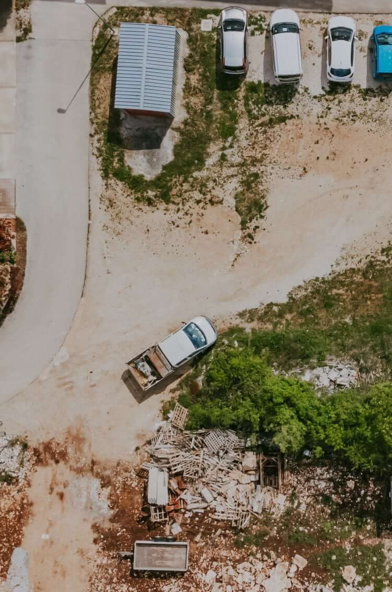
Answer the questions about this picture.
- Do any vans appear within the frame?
Yes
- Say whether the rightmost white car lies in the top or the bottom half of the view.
top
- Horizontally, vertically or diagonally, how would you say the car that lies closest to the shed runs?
vertically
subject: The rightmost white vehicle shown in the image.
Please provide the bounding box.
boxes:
[323,15,358,85]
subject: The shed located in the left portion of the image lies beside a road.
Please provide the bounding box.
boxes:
[114,23,184,119]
